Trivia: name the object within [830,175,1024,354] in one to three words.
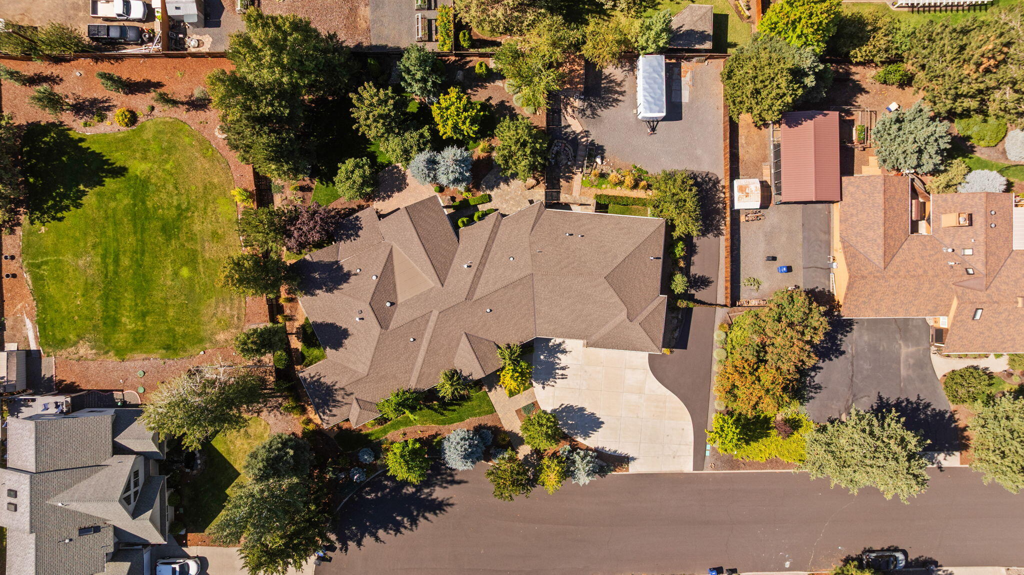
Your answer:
house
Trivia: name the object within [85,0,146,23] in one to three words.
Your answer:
truck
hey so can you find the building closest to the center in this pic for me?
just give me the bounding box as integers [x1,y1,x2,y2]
[286,194,667,429]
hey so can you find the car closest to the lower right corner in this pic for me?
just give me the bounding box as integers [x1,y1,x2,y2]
[865,552,910,575]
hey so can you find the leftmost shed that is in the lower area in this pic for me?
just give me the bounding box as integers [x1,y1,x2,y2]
[0,343,38,392]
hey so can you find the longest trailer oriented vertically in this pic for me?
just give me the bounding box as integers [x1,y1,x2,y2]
[633,56,664,139]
